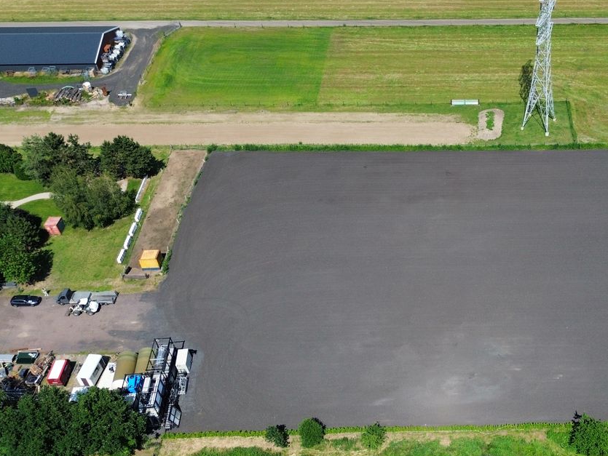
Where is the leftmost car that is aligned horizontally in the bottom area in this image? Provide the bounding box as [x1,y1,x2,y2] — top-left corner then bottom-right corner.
[8,290,43,305]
